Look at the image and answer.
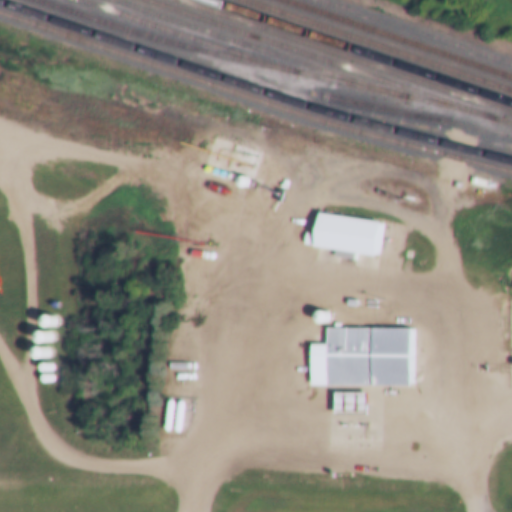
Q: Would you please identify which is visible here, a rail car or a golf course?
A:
rail car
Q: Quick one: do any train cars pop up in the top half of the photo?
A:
Yes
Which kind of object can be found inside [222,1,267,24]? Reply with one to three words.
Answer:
rail car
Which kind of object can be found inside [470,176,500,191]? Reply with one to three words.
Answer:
vehicle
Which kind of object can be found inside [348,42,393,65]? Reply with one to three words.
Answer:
rail car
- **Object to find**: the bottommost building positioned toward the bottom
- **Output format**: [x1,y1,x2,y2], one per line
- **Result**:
[310,327,415,386]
